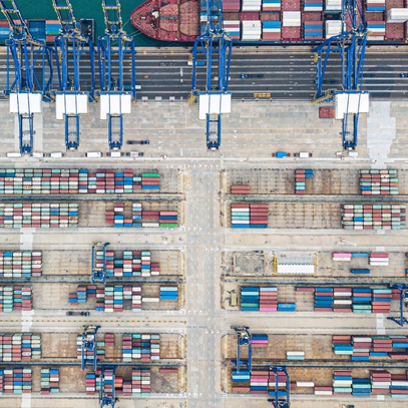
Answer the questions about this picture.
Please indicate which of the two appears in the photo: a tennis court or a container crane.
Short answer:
container crane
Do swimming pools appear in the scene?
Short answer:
No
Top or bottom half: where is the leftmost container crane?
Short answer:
top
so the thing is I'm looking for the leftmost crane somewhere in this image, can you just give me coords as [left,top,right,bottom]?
[0,0,56,157]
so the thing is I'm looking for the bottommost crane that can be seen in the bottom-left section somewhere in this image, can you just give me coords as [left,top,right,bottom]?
[98,357,118,406]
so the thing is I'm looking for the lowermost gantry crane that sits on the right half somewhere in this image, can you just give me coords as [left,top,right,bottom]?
[265,359,290,408]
